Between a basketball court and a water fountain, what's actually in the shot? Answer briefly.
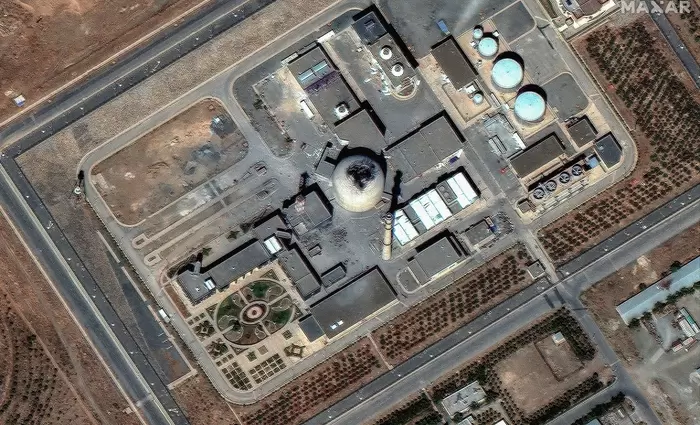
water fountain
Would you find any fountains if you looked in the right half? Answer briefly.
No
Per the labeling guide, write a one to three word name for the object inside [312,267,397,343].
building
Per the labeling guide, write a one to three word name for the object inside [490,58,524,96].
storage tank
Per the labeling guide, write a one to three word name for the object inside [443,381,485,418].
house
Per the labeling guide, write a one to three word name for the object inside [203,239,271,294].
building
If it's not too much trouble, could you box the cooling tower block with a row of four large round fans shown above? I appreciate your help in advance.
[530,161,587,207]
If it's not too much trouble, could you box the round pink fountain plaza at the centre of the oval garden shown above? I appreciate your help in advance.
[240,299,268,325]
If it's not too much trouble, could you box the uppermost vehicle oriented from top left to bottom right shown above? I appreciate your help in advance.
[436,18,450,36]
